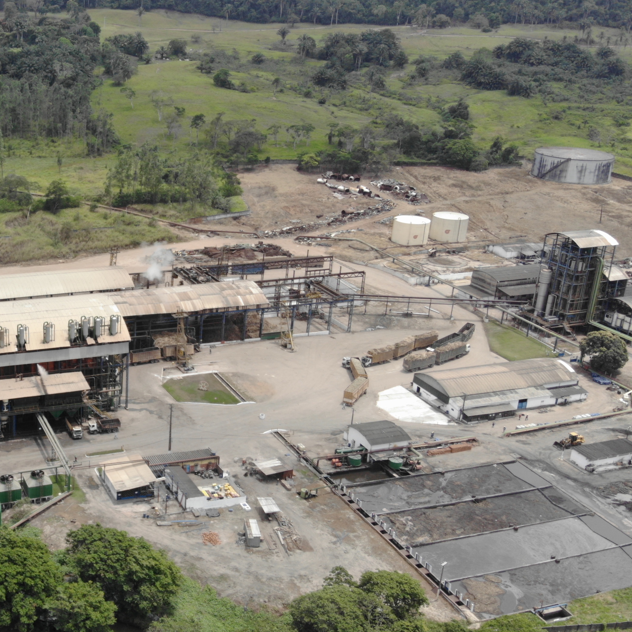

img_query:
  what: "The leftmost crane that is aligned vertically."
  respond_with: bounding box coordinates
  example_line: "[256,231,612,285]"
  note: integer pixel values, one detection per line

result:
[174,321,198,372]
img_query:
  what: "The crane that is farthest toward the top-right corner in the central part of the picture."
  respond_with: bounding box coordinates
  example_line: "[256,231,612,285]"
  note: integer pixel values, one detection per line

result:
[301,272,354,302]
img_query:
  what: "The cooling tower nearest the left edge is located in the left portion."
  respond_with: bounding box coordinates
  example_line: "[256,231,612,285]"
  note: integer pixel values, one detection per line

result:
[0,471,23,510]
